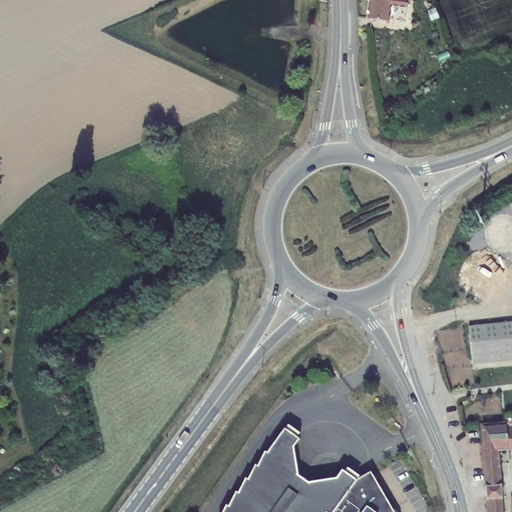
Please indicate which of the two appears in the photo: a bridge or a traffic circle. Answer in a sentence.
This aerial view contains a traffic circle.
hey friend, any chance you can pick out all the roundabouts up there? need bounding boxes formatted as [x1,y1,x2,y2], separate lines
[256,146,436,316]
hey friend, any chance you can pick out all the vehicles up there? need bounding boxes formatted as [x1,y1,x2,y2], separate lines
[448,421,459,426]
[306,164,316,173]
[473,474,484,480]
[176,428,190,445]
[456,432,466,440]
[364,154,376,162]
[468,432,478,437]
[326,292,338,300]
[410,392,418,404]
[398,472,408,480]
[446,406,457,412]
[470,438,480,443]
[273,284,280,296]
[478,266,492,276]
[452,492,458,502]
[403,483,414,492]
[472,468,484,474]
[494,154,507,163]
[398,320,404,330]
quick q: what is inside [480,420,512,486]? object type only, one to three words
house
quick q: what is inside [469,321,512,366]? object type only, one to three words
hangar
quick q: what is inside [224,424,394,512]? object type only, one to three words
building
